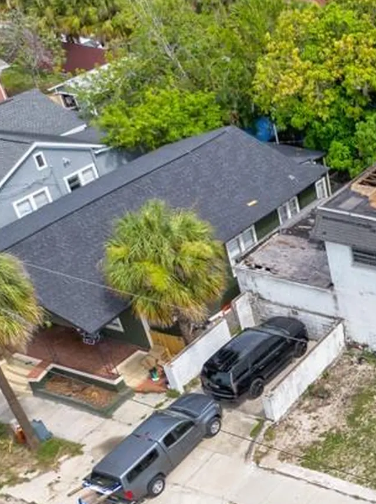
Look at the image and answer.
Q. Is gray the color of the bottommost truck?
Yes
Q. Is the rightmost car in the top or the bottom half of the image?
bottom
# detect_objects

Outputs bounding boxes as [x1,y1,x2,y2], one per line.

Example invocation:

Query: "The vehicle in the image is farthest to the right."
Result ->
[195,318,309,407]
